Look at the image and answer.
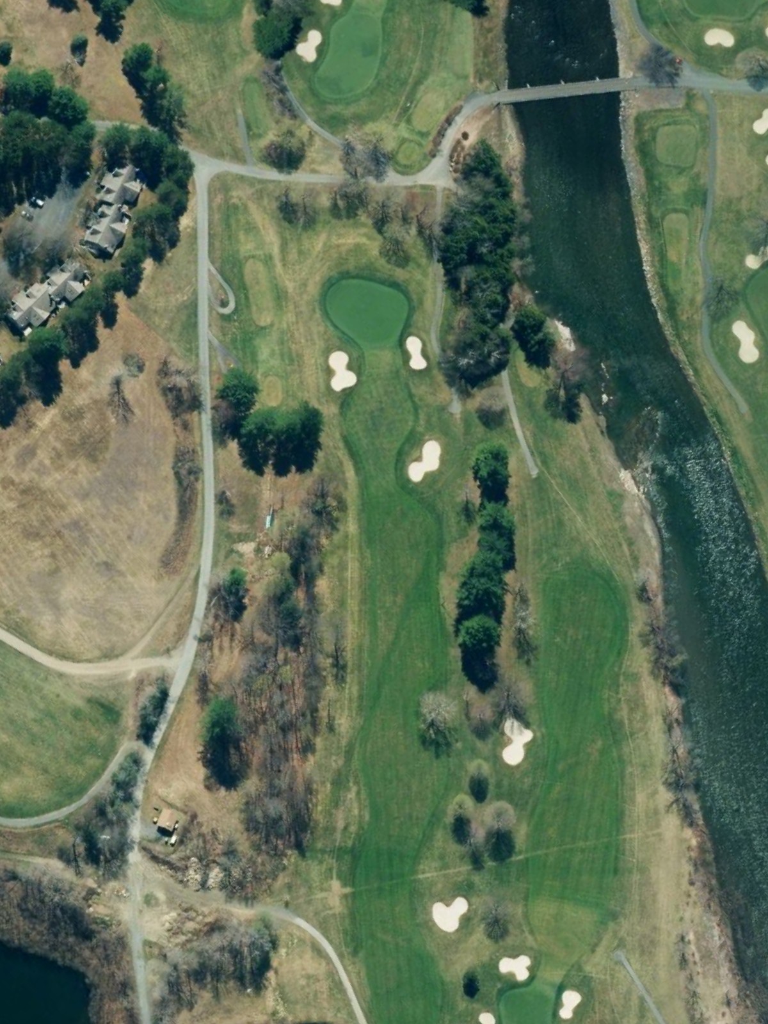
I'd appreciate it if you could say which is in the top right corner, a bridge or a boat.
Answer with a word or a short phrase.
bridge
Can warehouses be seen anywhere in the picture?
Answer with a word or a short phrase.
No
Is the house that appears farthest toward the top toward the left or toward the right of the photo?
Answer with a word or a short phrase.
left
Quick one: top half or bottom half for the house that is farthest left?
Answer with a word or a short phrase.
top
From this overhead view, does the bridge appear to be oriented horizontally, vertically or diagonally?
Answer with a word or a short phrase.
horizontally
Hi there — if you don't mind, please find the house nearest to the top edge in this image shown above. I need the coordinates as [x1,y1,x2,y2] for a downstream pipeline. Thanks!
[97,158,142,207]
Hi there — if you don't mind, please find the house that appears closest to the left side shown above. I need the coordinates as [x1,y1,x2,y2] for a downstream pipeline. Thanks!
[6,277,57,329]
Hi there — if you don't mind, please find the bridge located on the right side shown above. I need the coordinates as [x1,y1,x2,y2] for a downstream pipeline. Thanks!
[490,70,639,111]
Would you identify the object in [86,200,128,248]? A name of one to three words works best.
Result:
house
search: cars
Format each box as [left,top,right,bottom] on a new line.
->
[19,209,33,221]
[30,196,44,207]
